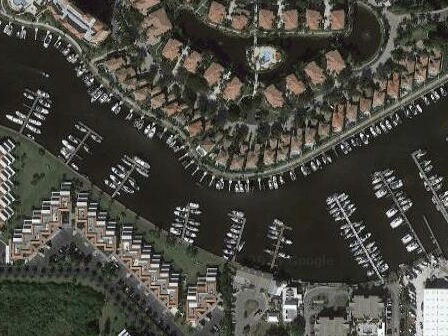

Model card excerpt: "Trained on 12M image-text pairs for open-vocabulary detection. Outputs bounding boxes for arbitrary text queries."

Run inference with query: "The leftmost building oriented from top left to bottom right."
[47,0,106,48]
